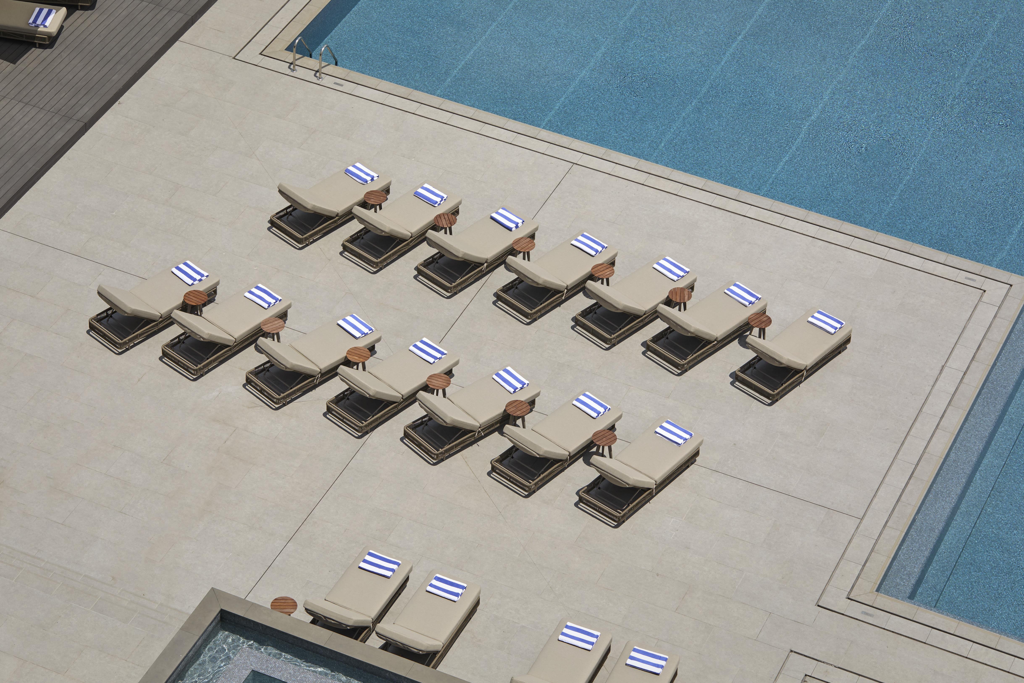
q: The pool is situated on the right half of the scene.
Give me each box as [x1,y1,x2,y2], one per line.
[285,0,1024,643]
